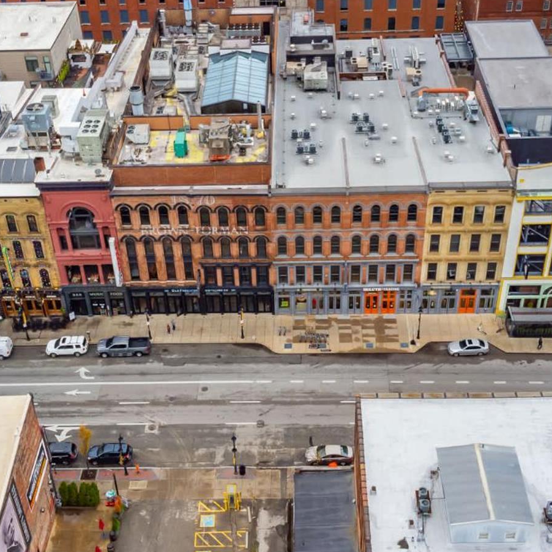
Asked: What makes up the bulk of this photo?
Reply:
buildings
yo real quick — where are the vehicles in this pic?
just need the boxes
[304,443,353,465]
[48,440,80,465]
[87,442,135,465]
[0,335,15,359]
[446,336,489,353]
[45,334,89,354]
[95,331,152,356]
